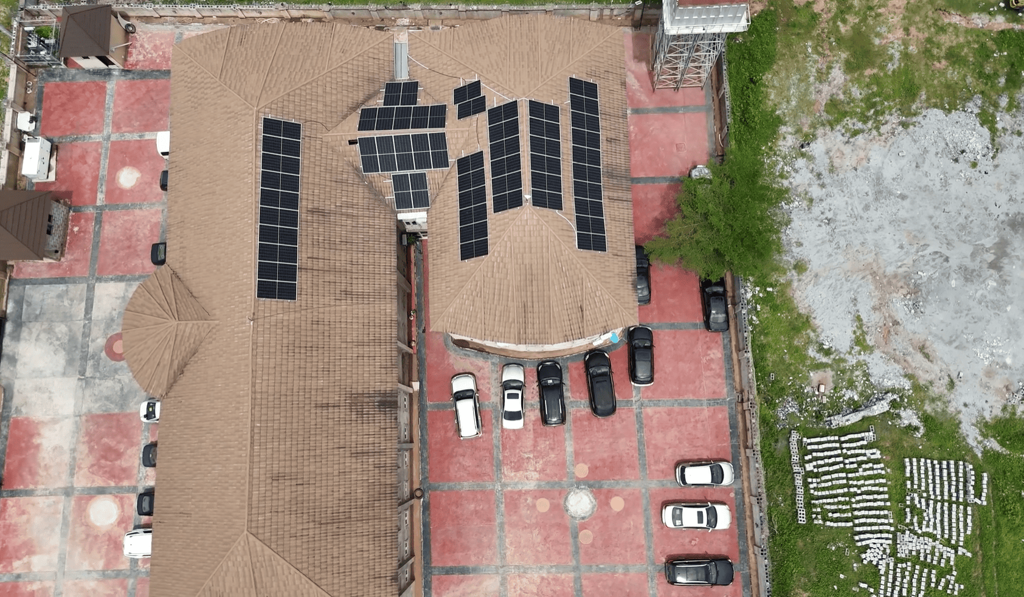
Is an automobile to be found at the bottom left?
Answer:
Yes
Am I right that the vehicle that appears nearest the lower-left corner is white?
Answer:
Yes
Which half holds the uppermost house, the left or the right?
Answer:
left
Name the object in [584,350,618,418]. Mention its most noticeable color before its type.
black car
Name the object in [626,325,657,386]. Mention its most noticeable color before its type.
black car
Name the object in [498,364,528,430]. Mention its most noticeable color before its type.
white car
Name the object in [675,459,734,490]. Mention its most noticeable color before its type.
white car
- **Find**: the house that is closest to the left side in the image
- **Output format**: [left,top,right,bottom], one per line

[0,192,73,264]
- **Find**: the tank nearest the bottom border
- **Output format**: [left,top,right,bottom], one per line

[18,111,43,137]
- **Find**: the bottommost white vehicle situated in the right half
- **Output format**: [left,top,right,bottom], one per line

[661,501,731,534]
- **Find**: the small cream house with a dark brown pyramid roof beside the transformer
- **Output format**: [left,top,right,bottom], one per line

[59,5,132,74]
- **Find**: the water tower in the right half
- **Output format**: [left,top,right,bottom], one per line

[652,0,751,92]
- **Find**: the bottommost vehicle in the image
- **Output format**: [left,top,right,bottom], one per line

[664,557,735,592]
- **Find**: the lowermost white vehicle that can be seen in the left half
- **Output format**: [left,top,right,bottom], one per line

[119,529,153,560]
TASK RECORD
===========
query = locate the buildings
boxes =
[406,12,640,352]
[121,21,419,597]
[0,192,73,264]
[59,5,132,74]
